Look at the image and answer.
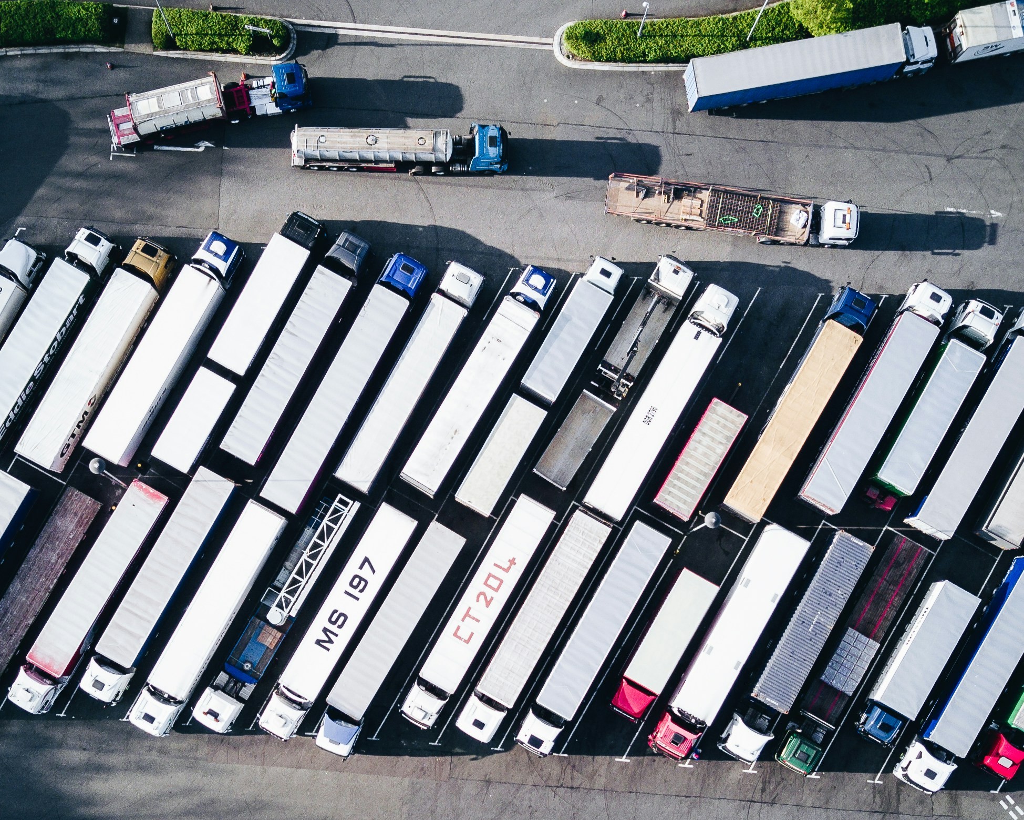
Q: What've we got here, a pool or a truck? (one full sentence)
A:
I can see a truck in this picture.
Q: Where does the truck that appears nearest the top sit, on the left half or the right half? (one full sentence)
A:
You can find the truck that appears nearest the top on the right side of the picture.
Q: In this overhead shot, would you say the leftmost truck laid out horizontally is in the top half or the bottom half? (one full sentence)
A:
Seen from above, the leftmost truck laid out horizontally lies in the top half of the view.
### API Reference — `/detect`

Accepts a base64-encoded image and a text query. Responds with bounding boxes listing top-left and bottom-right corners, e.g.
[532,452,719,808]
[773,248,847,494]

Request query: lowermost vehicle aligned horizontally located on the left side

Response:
[292,121,513,174]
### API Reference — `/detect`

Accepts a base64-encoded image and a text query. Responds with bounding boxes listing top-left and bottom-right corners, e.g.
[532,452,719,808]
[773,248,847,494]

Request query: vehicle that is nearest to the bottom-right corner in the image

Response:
[964,673,1024,788]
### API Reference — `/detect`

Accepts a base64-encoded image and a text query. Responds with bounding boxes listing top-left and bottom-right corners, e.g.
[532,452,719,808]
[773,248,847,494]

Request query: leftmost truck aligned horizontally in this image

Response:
[109,61,315,151]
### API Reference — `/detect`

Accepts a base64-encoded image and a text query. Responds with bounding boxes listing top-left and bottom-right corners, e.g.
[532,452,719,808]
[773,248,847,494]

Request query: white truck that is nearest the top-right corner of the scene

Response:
[944,1,1024,64]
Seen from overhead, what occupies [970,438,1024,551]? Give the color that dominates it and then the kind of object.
white truck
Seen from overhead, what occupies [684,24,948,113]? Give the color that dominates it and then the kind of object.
white truck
